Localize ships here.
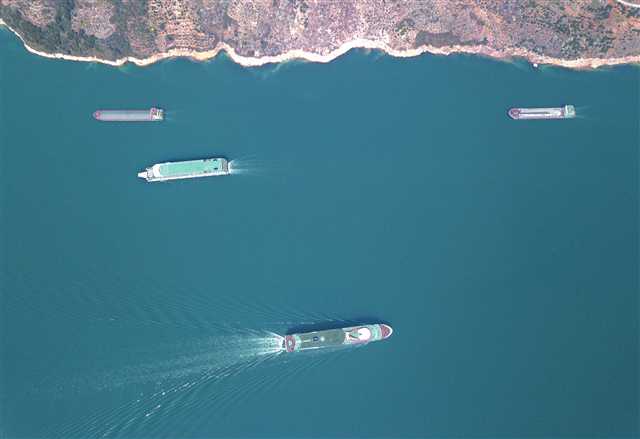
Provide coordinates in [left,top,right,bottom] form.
[507,106,576,119]
[93,109,164,121]
[138,159,231,182]
[284,323,392,352]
